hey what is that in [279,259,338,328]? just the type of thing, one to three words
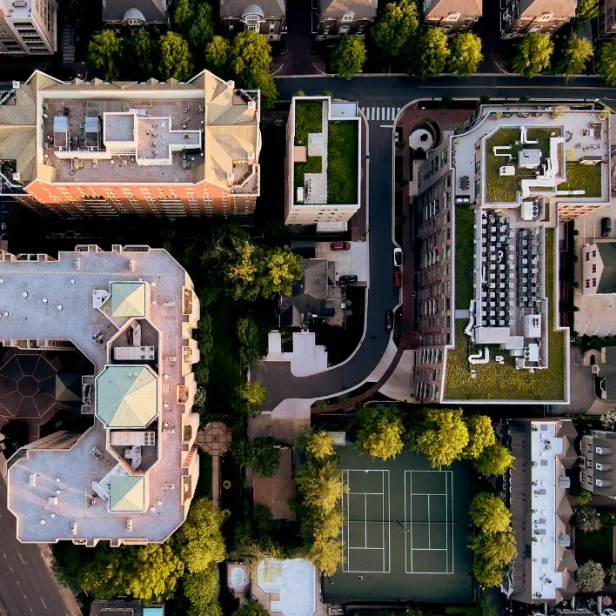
house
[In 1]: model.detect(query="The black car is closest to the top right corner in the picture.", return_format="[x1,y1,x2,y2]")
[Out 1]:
[600,216,612,237]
